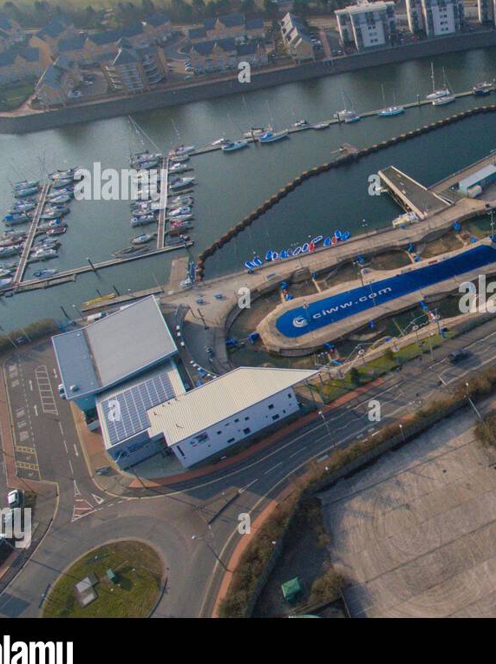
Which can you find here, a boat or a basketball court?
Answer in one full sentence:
Visible in the photo is a boat.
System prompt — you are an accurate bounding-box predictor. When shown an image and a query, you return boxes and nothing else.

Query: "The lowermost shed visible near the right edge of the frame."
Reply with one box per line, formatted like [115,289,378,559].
[455,161,496,193]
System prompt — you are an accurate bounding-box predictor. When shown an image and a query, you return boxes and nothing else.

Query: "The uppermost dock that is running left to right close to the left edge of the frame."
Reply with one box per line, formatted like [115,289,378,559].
[0,239,194,293]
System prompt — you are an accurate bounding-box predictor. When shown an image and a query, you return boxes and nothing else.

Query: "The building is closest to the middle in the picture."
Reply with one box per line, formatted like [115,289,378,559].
[52,297,326,465]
